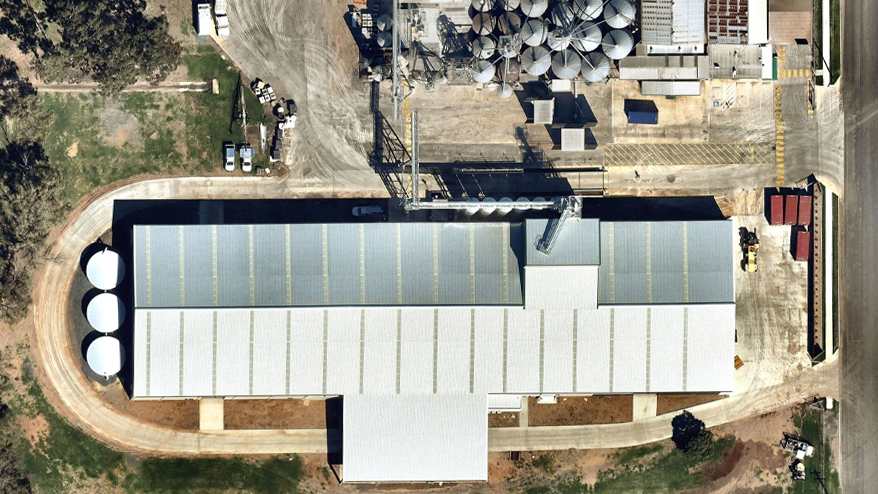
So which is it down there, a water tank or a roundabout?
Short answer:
water tank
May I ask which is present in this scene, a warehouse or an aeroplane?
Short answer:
warehouse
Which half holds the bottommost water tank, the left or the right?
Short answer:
left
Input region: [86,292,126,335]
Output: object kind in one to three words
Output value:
water tank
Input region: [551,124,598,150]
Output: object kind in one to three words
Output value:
shed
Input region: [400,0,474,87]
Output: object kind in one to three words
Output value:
building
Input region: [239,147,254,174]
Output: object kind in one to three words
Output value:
vehicle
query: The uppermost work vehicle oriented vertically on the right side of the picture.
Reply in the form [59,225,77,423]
[744,228,760,273]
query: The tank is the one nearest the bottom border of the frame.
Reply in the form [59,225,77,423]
[86,335,126,381]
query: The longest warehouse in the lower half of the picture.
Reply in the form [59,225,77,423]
[132,220,736,403]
